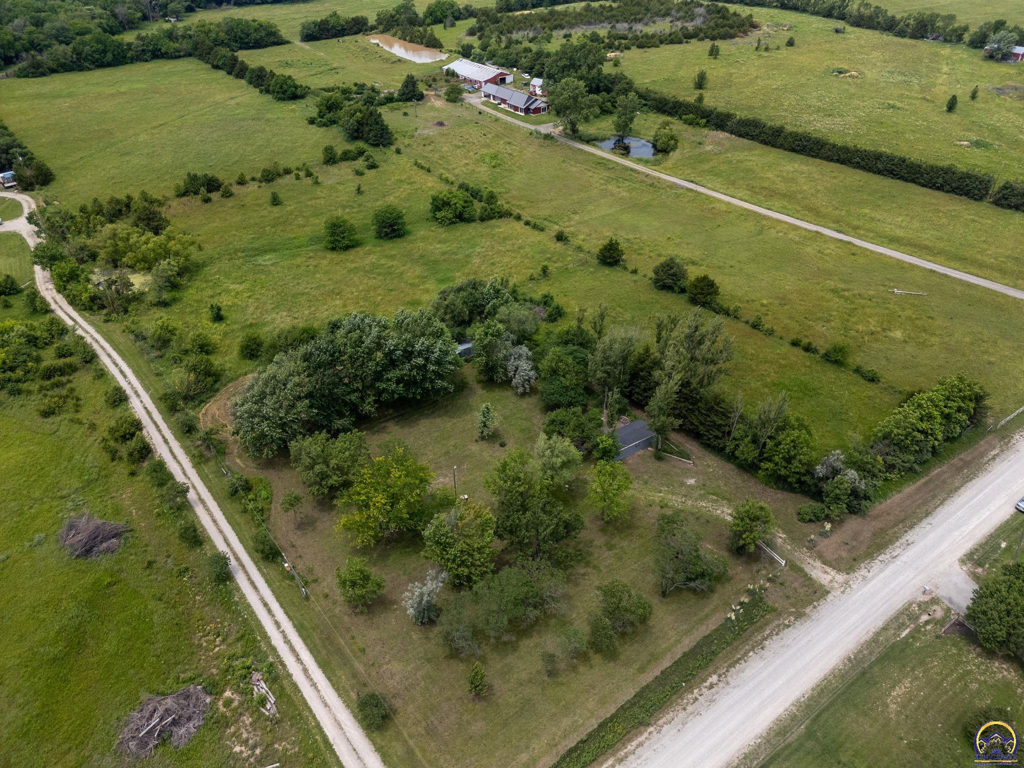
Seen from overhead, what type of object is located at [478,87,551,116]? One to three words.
house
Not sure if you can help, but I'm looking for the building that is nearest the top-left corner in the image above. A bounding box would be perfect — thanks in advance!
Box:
[441,58,517,87]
